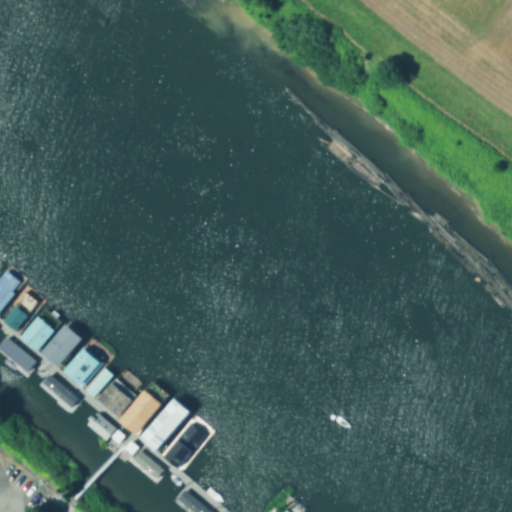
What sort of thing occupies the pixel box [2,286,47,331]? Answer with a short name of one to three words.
house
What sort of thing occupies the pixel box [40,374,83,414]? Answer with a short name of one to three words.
building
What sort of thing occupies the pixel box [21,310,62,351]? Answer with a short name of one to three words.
house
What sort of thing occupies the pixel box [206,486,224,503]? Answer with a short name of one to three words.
boat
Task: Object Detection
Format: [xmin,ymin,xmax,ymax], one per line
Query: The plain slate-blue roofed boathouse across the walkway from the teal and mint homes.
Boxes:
[0,338,38,378]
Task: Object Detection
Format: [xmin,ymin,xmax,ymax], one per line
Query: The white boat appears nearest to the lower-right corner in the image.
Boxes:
[334,414,352,428]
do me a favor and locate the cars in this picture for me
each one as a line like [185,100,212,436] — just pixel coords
[5,465,16,476]
[36,496,48,508]
[16,474,28,486]
[26,484,38,498]
[9,470,21,482]
[22,480,34,492]
[30,492,44,504]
